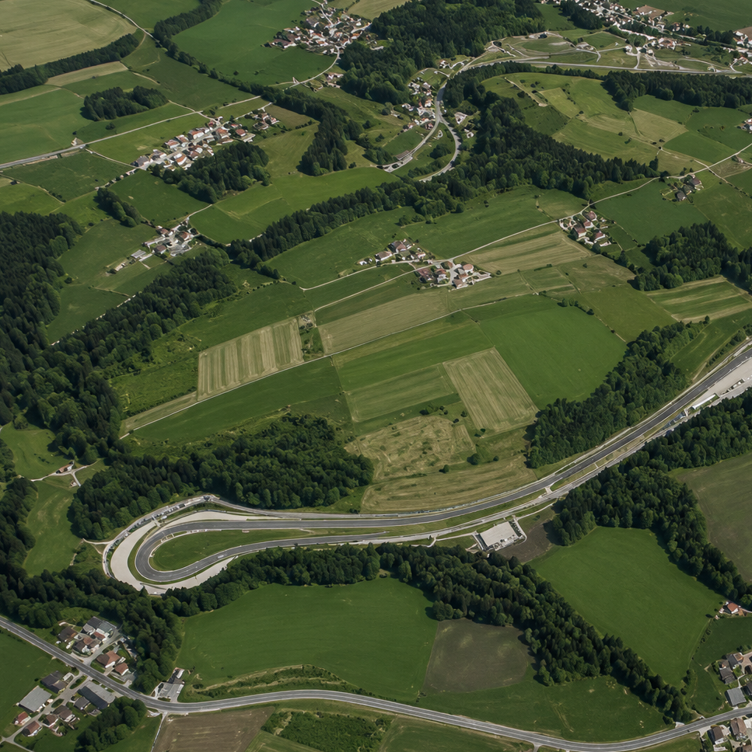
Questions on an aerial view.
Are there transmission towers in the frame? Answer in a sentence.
No, there's no transmission tower here.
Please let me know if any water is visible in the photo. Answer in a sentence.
No, there's no water in this view.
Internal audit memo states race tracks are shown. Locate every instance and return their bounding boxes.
[134,346,752,582]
